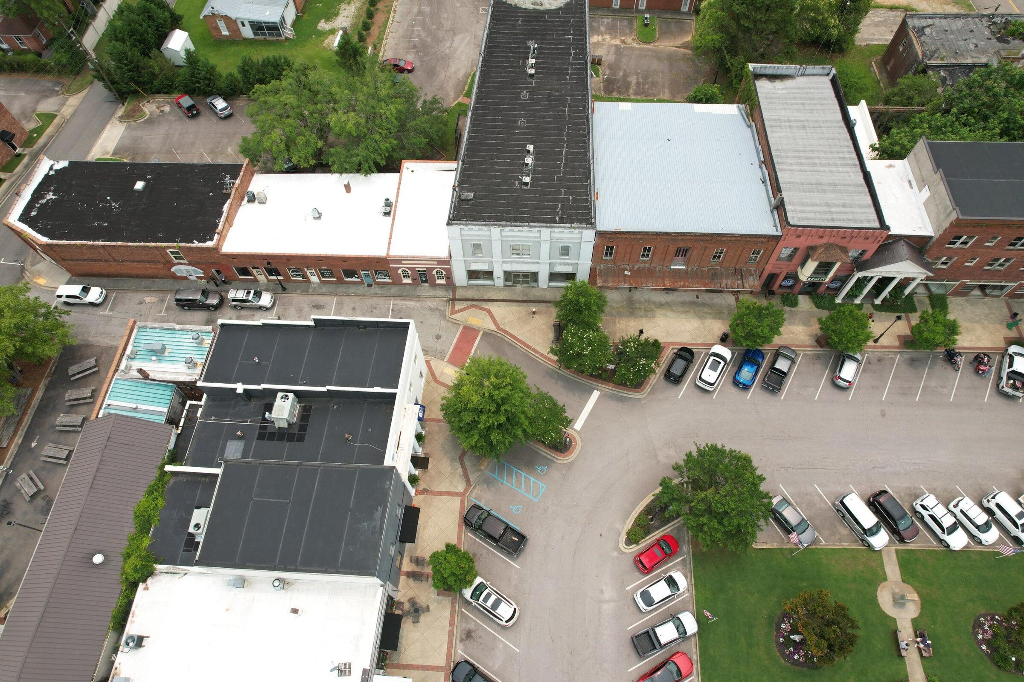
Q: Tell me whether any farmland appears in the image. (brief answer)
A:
No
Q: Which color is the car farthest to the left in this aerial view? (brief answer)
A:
white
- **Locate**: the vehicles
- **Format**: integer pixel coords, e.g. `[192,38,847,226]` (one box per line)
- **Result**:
[629,609,699,662]
[981,489,1024,548]
[471,508,535,562]
[759,342,798,397]
[832,349,866,393]
[378,55,418,75]
[172,285,224,309]
[947,494,997,549]
[453,658,503,682]
[173,92,202,120]
[997,345,1024,401]
[632,534,682,577]
[226,287,276,312]
[732,346,764,393]
[635,651,694,682]
[54,282,108,305]
[770,494,815,550]
[663,343,696,389]
[1007,479,1024,511]
[945,352,962,373]
[632,571,688,614]
[462,579,519,630]
[205,95,235,122]
[912,493,965,552]
[834,490,888,551]
[696,344,729,394]
[867,486,919,545]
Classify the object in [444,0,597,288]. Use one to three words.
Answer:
building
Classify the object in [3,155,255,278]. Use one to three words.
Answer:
building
